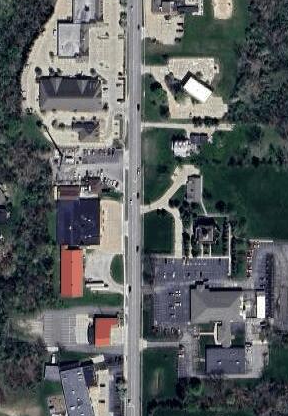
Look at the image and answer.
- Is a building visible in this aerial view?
Yes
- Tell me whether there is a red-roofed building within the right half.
No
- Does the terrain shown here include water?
No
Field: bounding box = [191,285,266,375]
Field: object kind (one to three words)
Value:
building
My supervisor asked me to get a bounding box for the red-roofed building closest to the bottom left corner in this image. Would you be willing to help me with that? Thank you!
[94,317,118,348]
